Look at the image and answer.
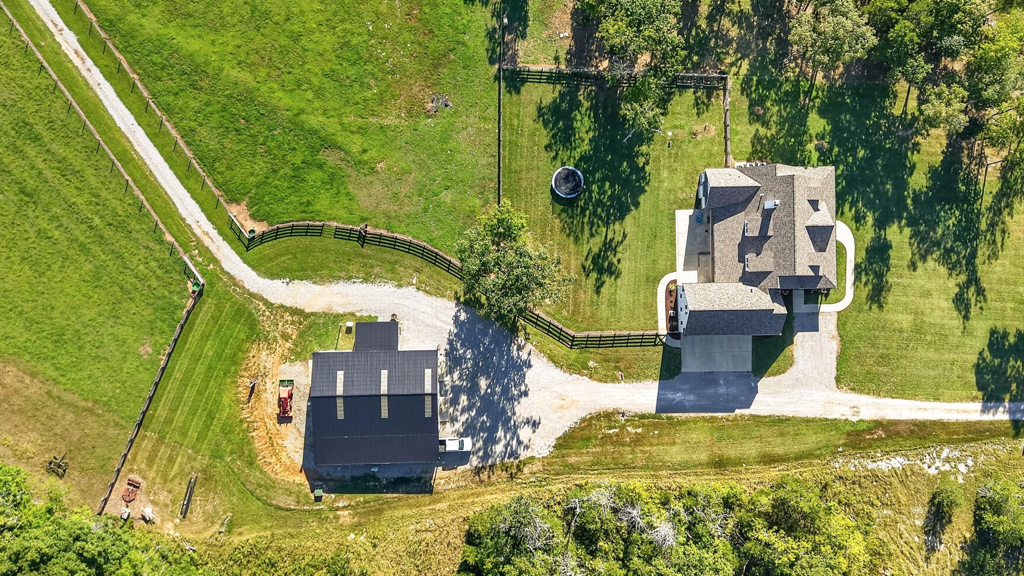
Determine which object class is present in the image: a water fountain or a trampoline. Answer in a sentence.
I can see a trampoline in this picture.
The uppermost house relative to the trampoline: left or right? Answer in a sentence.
Compared with the trampoline, the uppermost house is located further to the right.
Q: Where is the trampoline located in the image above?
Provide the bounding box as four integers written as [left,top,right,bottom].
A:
[551,166,584,199]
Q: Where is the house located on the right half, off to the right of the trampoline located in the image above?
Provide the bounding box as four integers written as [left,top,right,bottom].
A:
[677,164,836,335]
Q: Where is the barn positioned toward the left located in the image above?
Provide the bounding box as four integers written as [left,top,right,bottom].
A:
[310,323,440,465]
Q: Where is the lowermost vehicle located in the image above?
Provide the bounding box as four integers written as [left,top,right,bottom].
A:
[439,437,472,454]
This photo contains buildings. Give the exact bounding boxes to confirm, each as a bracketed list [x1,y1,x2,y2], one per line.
[677,164,836,335]
[310,323,440,465]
